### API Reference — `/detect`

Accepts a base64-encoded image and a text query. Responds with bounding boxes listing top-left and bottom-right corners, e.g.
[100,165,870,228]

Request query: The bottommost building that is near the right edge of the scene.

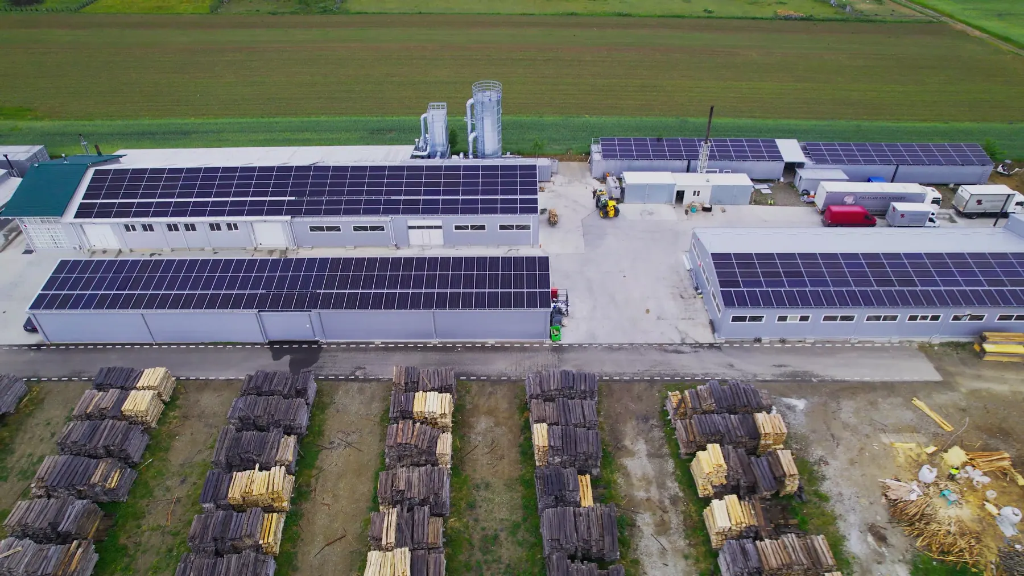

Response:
[689,208,1024,345]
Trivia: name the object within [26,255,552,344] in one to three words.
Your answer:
shed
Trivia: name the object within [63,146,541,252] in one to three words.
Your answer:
building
